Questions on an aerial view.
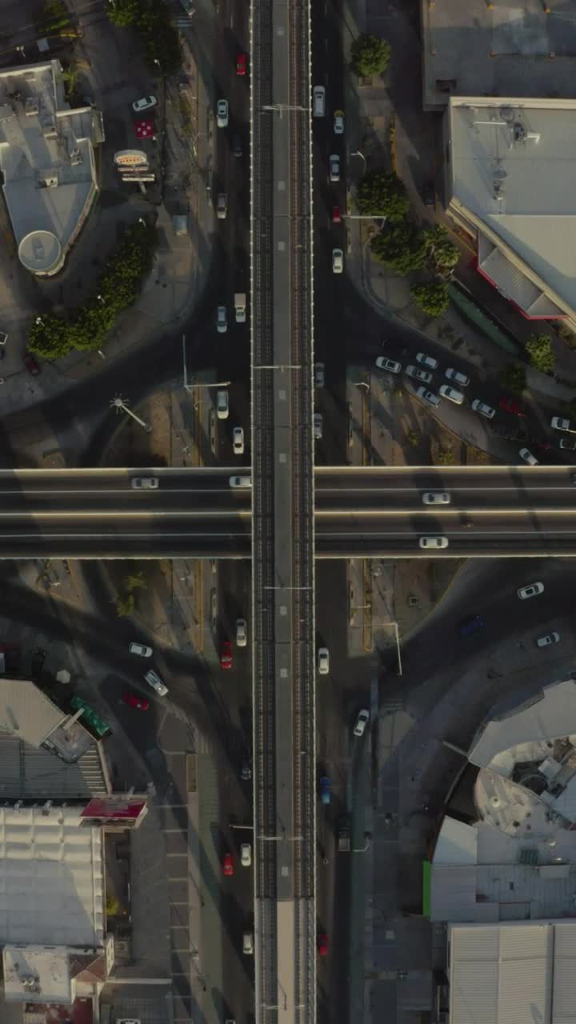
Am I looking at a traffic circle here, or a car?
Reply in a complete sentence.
There is a car in the scene.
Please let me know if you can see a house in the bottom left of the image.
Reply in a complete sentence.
Yes, a house can be seen in the bottom left of the image.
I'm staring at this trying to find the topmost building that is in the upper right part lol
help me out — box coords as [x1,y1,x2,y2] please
[419,0,576,124]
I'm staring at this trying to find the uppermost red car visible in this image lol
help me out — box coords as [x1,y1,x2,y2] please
[235,52,248,77]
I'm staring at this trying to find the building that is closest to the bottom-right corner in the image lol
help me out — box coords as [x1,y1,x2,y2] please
[442,920,576,1024]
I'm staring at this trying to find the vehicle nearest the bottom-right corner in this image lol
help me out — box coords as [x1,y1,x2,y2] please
[317,933,329,955]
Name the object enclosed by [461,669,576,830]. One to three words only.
building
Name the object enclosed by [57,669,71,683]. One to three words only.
umbrella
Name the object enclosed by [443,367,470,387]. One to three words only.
car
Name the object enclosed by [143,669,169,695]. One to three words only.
truck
